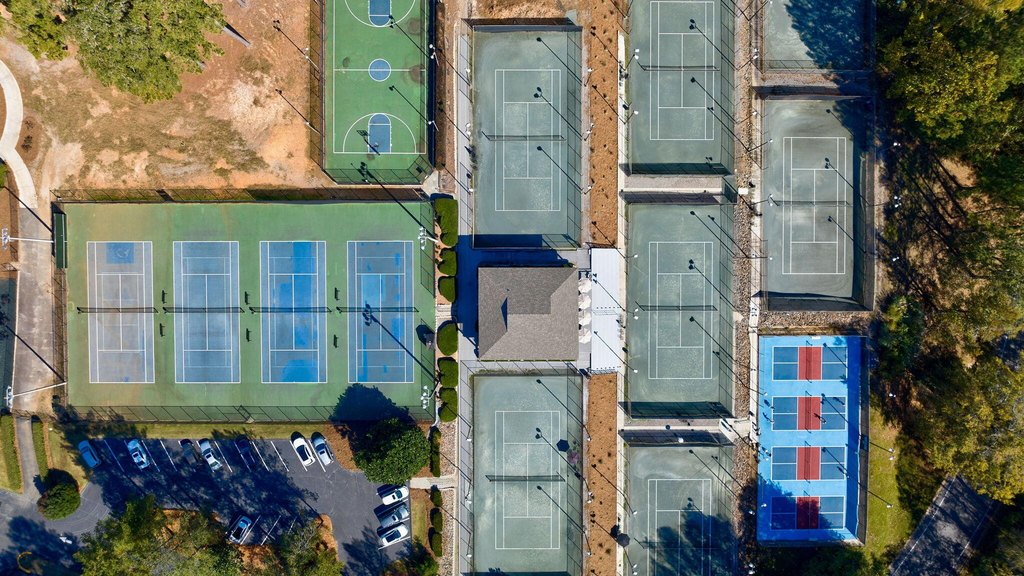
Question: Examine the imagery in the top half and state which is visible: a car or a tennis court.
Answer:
tennis court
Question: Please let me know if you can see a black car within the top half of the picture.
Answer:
No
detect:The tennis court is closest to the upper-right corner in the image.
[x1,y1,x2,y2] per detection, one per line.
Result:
[763,0,865,69]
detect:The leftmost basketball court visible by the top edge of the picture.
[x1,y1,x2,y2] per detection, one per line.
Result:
[324,0,433,184]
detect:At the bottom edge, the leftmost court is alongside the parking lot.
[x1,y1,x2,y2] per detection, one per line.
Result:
[473,376,583,576]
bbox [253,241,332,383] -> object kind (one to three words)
tennis court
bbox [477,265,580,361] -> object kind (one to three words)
building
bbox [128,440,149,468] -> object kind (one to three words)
car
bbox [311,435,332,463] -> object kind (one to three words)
car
